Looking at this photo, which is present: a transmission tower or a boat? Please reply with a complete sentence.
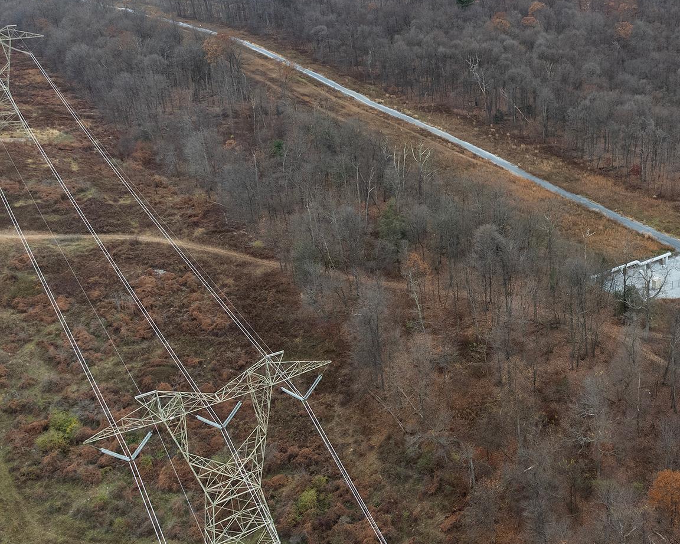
Of the two, only a transmission tower appears.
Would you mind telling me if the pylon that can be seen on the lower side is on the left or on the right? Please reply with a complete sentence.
The pylon that can be seen on the lower side is on the left side of the image.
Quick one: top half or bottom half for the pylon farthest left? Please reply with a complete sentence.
The top half of the photo is where the pylon farthest left is.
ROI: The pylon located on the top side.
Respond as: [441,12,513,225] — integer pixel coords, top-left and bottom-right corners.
[0,26,41,140]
